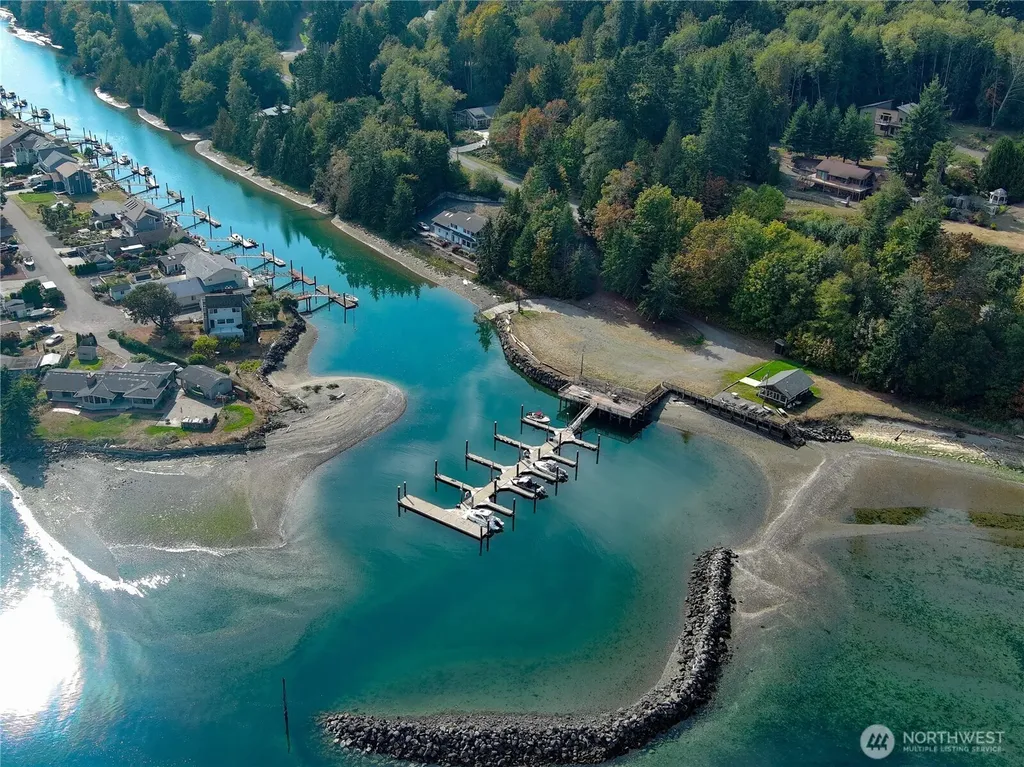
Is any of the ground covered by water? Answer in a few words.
Yes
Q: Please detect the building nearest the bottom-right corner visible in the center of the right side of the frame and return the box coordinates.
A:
[750,369,815,411]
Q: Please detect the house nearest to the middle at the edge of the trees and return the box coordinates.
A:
[436,211,493,249]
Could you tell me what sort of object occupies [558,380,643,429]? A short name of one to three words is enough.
pier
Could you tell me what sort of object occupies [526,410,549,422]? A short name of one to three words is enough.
boat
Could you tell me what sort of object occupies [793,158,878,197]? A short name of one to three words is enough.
house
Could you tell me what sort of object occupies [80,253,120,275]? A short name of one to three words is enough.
house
